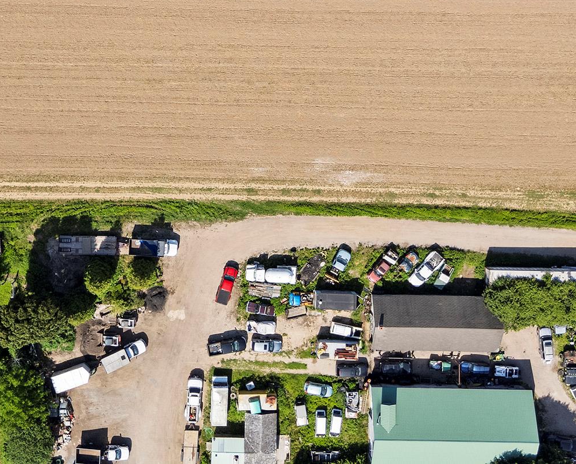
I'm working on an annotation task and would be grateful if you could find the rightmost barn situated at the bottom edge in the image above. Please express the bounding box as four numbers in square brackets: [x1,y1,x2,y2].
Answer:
[367,379,539,464]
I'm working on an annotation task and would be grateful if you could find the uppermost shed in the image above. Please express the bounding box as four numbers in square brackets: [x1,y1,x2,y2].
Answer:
[371,293,502,352]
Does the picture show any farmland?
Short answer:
Yes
